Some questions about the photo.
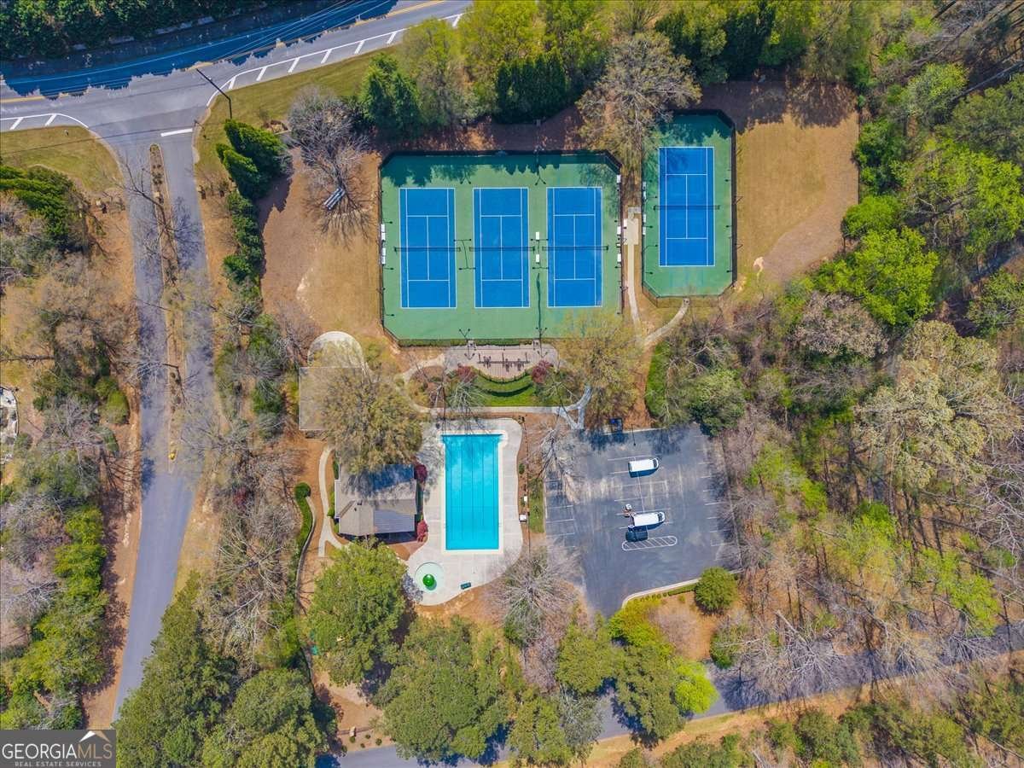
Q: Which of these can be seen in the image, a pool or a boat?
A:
pool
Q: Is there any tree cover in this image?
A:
Yes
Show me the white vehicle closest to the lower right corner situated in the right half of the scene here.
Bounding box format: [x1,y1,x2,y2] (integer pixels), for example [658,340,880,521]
[631,514,665,532]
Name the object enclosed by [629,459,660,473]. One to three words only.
vehicle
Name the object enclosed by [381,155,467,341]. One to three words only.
tennis court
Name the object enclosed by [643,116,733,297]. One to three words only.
tennis court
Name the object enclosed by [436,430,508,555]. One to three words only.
swimming pool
